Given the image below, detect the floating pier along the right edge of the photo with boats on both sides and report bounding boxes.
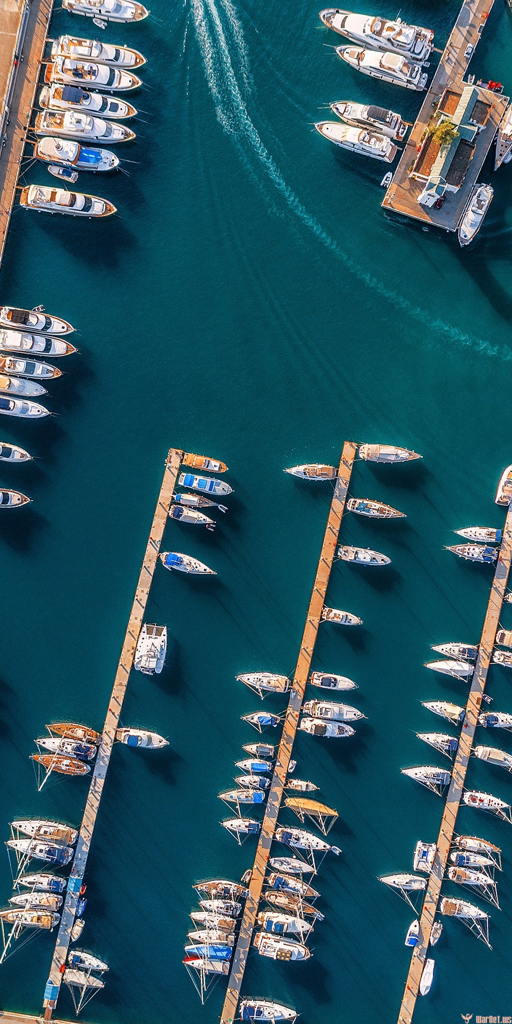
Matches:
[396,503,512,1024]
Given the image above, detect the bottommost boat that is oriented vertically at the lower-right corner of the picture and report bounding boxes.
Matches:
[420,958,436,996]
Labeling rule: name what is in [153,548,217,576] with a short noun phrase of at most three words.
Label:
boat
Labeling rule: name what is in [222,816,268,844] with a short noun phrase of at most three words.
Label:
boat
